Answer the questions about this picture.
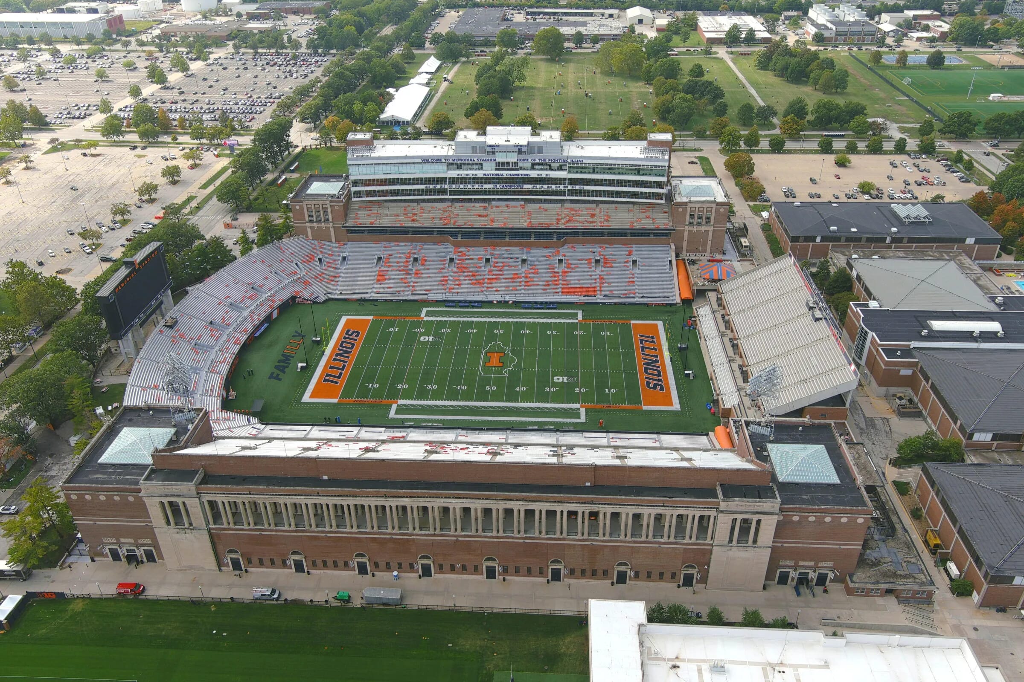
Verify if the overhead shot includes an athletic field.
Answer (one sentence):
Yes, there is an athletic field in the image.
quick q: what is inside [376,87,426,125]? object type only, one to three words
tent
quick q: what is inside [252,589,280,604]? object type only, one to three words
vehicle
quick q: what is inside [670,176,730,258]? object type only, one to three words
building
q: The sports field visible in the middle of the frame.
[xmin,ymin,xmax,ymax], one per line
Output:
[224,300,722,431]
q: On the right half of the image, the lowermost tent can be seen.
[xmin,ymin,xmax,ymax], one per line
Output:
[700,262,736,281]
